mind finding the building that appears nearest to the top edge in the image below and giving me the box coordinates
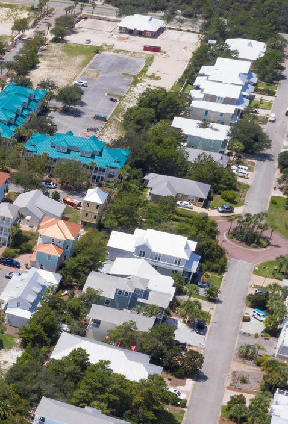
[115,16,169,40]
